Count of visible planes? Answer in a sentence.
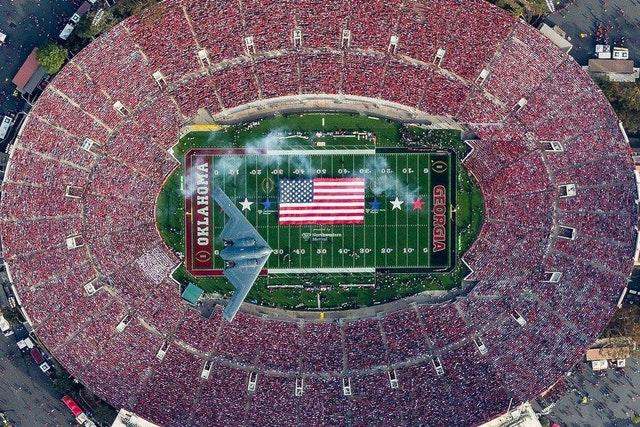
My tally gives 1 plane in this photo.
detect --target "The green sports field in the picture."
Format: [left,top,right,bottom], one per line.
[185,134,458,288]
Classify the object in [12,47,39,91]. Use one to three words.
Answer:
building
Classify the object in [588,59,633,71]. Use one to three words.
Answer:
building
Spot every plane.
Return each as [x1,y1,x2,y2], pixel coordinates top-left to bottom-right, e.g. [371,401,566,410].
[214,186,272,323]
